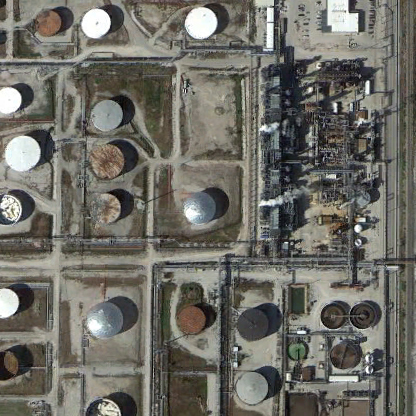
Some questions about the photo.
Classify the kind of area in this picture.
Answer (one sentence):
The picture captures an industrial area.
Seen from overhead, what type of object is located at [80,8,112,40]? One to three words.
storage tank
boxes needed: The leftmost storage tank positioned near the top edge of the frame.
[34,9,63,38]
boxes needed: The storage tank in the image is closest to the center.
[182,191,217,226]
